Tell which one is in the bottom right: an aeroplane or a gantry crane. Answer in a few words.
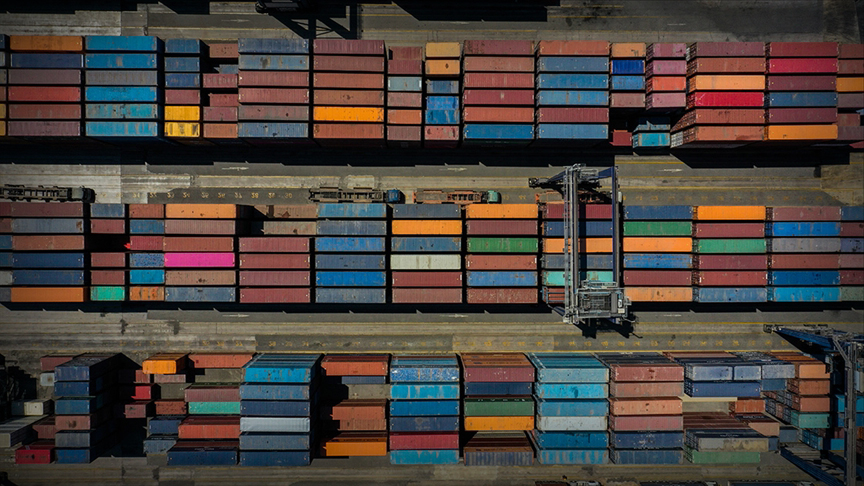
gantry crane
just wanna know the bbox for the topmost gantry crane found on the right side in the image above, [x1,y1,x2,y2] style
[526,164,633,329]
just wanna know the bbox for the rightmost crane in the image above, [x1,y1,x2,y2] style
[759,323,864,486]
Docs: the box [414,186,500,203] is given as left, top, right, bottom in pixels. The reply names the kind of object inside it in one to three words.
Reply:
vehicle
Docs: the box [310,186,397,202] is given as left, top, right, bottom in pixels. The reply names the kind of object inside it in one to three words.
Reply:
vehicle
